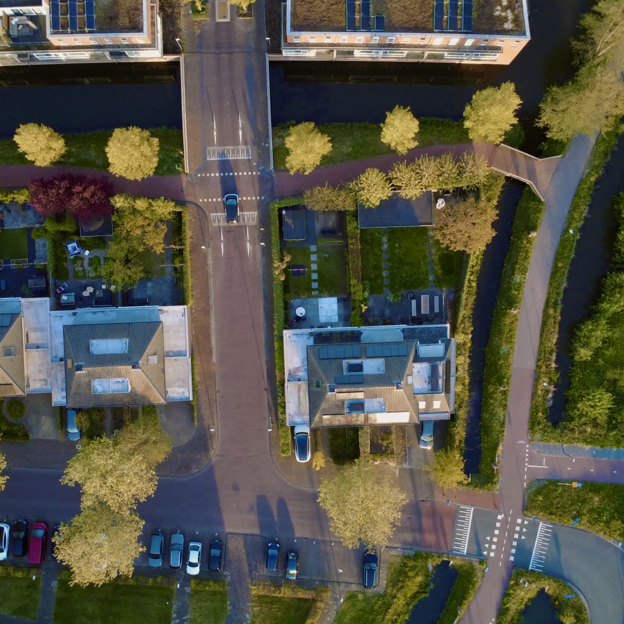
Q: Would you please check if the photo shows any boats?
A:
No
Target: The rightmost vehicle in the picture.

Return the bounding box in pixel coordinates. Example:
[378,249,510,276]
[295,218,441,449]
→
[417,421,435,452]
